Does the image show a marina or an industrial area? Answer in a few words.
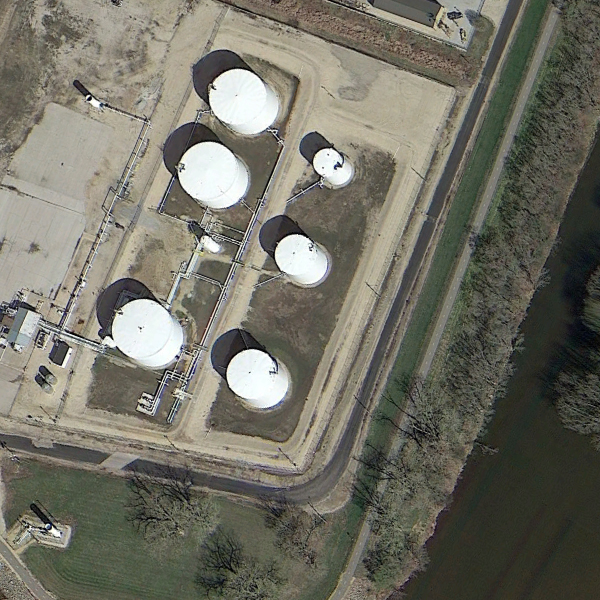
industrial area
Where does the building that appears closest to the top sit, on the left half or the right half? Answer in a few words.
right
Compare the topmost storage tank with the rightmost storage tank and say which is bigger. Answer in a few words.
the topmost storage tank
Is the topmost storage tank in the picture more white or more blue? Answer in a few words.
white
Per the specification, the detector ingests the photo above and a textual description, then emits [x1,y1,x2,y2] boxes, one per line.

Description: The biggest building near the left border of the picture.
[6,308,43,348]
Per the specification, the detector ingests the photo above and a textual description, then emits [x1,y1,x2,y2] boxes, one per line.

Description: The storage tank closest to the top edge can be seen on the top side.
[207,67,281,138]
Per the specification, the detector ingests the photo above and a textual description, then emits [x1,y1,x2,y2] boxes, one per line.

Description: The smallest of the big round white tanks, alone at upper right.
[312,148,357,191]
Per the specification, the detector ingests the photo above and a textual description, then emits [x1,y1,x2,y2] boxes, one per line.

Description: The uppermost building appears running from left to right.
[374,0,442,30]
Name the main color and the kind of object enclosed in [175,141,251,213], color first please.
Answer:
white storage tank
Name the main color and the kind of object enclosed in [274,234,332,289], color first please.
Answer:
white storage tank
